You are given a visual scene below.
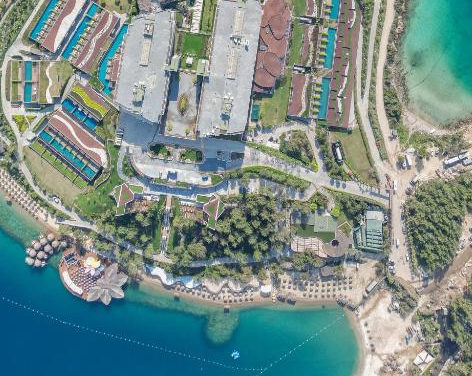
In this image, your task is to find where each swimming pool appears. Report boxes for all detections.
[23,83,32,103]
[328,0,340,21]
[317,77,330,119]
[322,29,336,70]
[97,24,128,94]
[62,14,92,60]
[29,0,60,41]
[39,128,98,179]
[62,98,75,114]
[83,116,98,131]
[72,107,86,122]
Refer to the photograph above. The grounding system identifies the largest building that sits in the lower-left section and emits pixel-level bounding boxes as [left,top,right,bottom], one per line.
[59,248,129,306]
